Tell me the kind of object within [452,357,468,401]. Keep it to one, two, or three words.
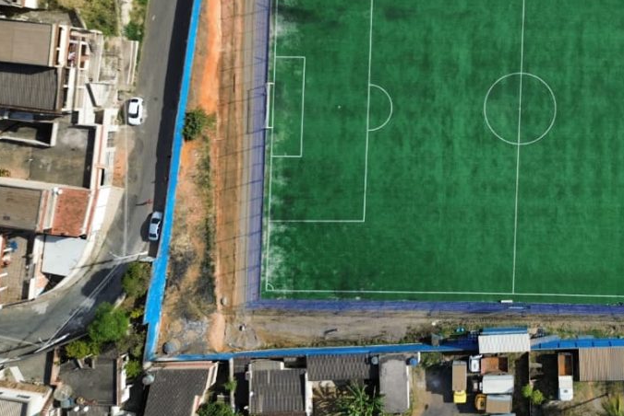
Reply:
vehicle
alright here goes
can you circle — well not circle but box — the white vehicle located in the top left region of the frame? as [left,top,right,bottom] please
[125,97,142,124]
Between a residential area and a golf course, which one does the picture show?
residential area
